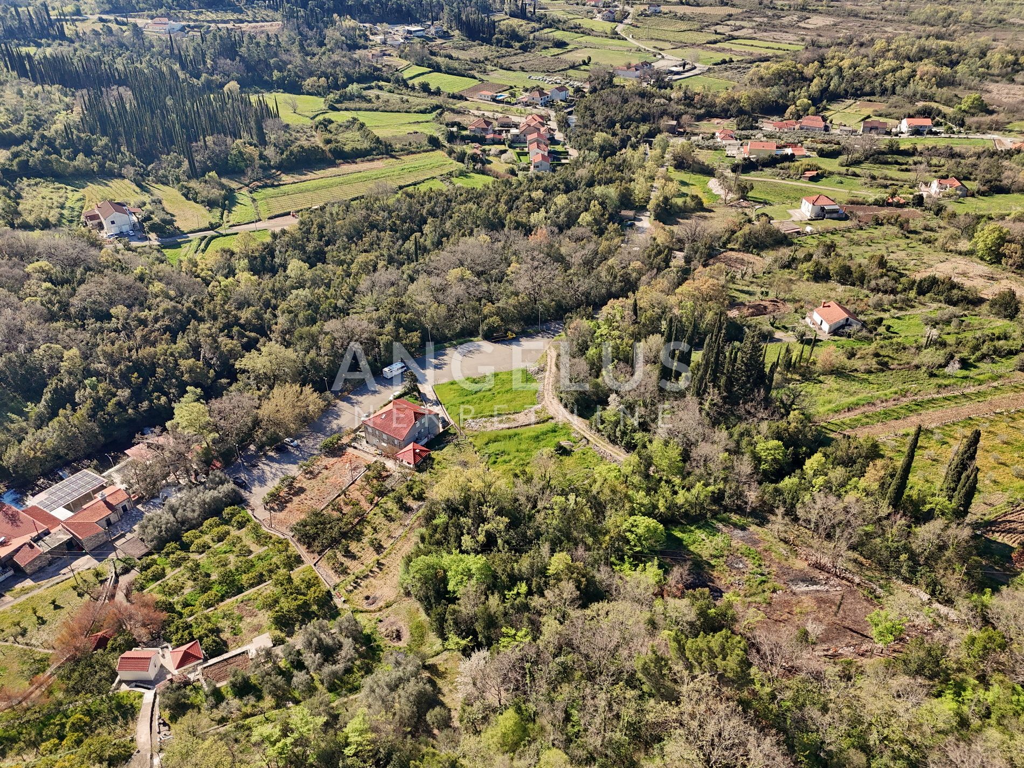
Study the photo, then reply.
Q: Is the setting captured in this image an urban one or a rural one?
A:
rural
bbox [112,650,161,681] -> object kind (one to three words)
shed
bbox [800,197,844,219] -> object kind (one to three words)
house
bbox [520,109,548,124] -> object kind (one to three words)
house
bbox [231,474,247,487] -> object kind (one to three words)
vehicle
